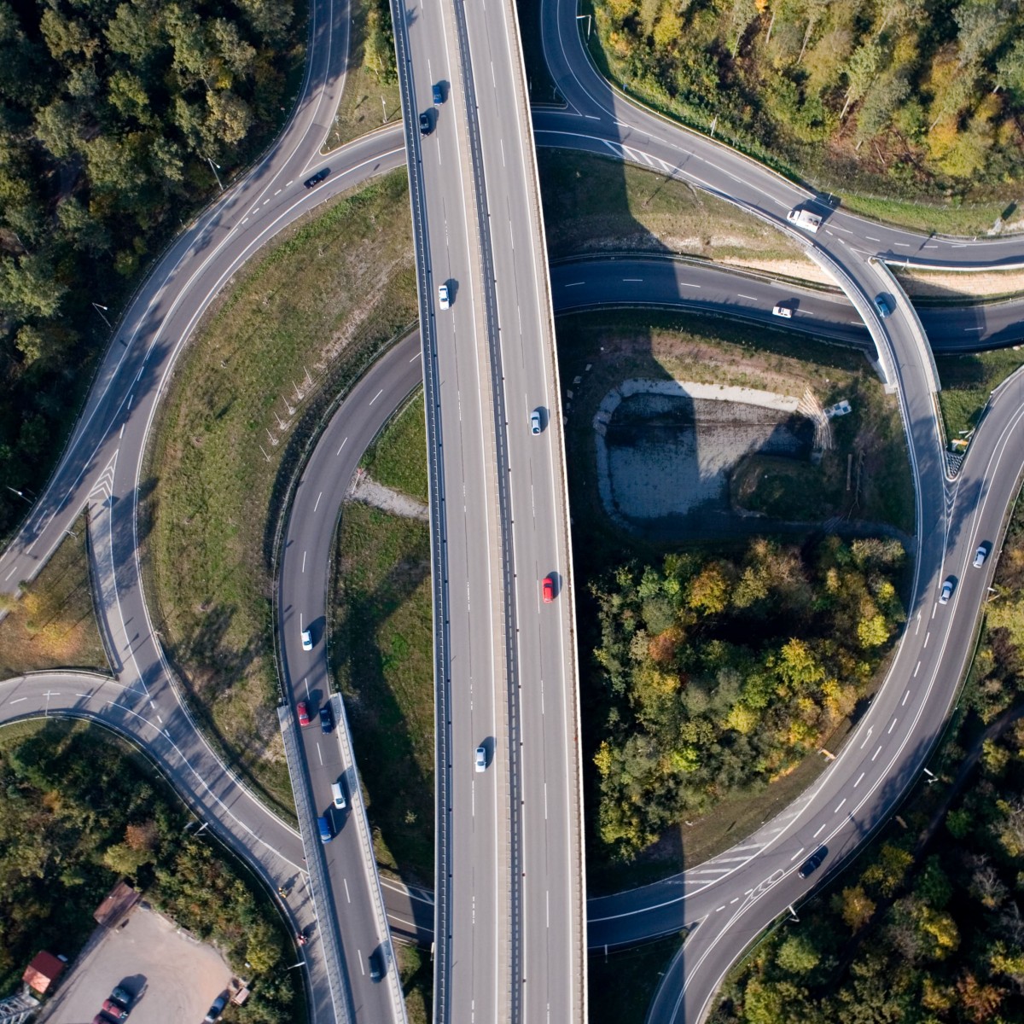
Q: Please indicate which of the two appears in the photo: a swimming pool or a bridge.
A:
bridge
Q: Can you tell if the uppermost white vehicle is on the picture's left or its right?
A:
right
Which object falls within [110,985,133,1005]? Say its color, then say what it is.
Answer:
blue car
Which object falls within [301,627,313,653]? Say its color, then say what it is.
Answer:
white vehicle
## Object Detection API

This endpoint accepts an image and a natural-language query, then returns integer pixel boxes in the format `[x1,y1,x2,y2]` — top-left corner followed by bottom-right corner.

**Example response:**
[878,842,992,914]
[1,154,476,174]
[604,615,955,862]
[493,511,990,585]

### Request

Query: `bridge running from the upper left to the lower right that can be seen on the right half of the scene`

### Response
[805,250,942,396]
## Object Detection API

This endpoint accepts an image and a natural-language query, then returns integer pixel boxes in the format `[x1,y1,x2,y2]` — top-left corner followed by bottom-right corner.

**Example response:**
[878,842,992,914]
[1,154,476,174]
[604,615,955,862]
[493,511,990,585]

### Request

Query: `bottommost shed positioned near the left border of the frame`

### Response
[20,946,68,996]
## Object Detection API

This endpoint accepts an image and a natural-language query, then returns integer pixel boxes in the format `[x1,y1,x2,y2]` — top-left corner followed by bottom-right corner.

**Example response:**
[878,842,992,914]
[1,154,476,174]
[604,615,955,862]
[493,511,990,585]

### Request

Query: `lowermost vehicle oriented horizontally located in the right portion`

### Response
[770,306,794,319]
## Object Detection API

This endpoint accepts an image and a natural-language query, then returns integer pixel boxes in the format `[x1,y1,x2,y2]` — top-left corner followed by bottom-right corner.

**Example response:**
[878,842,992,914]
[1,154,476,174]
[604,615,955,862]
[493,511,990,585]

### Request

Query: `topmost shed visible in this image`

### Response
[90,876,145,936]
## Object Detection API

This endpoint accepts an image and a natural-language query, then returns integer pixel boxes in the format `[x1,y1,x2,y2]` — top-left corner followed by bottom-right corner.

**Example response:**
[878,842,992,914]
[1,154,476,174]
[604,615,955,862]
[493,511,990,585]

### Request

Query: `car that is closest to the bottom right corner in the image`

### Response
[800,851,823,876]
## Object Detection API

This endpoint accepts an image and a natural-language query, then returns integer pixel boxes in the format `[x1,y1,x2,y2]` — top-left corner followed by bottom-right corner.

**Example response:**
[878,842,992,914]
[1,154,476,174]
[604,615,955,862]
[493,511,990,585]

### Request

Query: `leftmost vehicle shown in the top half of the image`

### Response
[303,172,326,189]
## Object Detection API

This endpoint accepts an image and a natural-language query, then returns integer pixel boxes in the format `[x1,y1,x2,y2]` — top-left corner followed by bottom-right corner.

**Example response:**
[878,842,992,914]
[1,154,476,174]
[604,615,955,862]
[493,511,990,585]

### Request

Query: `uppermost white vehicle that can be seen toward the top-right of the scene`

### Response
[786,211,822,233]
